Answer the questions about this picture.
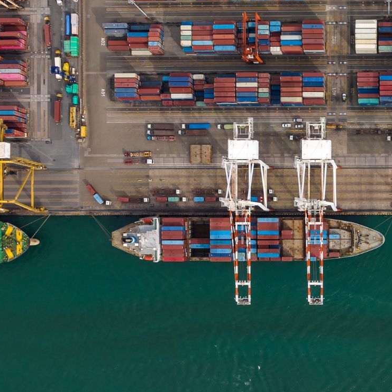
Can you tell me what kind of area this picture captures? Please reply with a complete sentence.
What you see here is a port.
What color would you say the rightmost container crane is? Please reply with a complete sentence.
The rightmost container crane is white.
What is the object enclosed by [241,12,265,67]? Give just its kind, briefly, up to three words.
container crane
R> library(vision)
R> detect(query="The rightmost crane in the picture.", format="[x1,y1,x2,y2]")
[293,115,344,304]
